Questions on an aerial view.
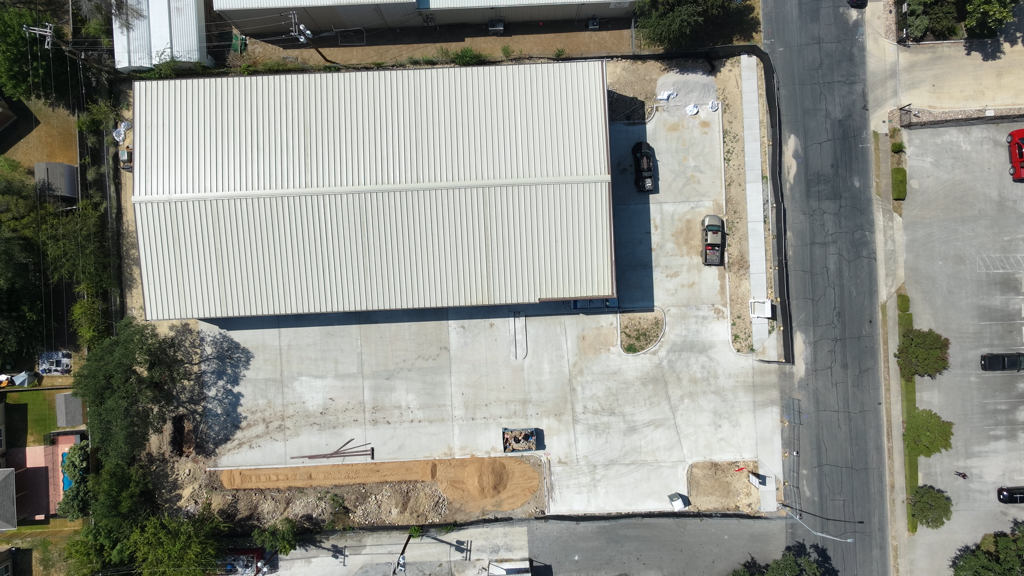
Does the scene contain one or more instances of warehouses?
Yes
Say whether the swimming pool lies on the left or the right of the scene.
left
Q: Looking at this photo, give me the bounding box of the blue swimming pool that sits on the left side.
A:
[61,452,81,493]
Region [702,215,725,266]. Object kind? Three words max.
truck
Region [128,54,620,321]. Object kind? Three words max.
warehouse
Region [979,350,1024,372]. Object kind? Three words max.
truck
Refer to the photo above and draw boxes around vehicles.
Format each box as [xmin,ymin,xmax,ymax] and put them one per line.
[995,484,1024,503]
[1005,130,1024,183]
[631,142,654,194]
[702,215,725,266]
[845,0,866,8]
[979,350,1024,372]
